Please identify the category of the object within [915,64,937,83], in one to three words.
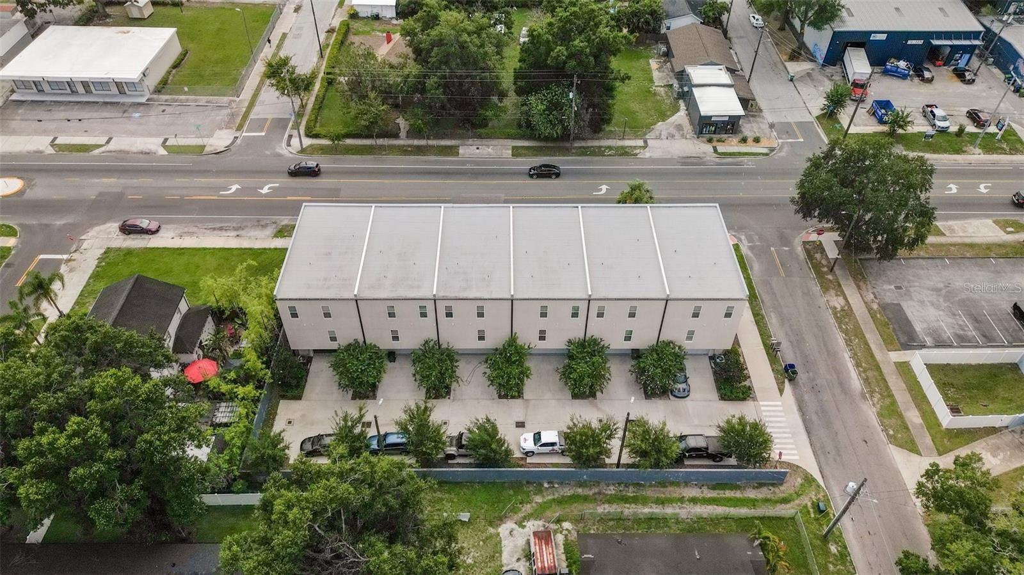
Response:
car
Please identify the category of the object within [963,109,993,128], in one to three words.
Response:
car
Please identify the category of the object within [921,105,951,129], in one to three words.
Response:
truck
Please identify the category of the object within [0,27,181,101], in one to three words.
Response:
building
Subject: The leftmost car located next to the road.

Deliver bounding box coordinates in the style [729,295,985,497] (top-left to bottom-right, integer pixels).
[117,217,162,234]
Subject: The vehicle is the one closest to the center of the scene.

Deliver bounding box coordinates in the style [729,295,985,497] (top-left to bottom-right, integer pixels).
[527,163,563,178]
